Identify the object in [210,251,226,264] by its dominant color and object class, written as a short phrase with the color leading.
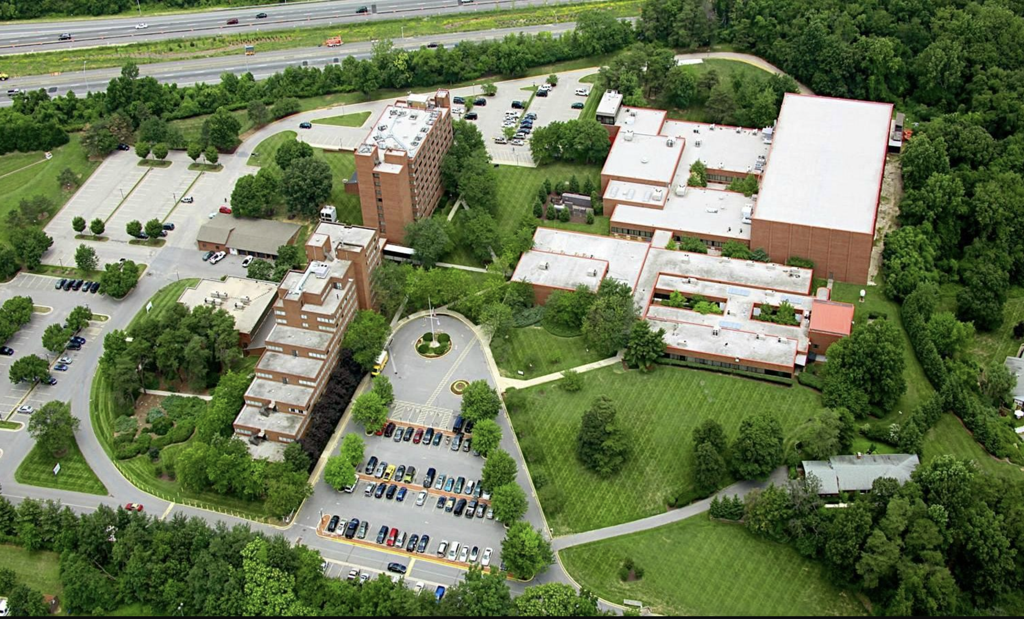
white vehicle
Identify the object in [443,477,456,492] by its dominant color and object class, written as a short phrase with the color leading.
blue vehicle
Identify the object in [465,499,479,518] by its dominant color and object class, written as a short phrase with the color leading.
gray vehicle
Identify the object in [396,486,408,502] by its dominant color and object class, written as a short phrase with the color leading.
blue vehicle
